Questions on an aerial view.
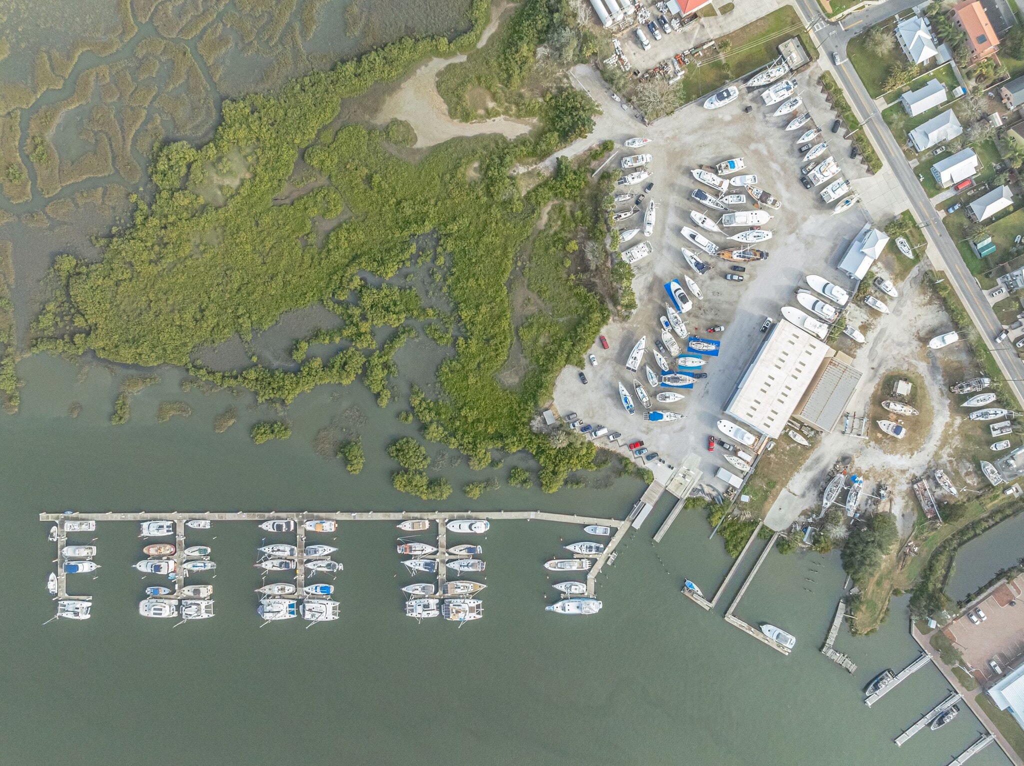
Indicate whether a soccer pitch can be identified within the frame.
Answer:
No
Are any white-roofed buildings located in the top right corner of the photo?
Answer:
Yes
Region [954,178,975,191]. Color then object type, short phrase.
red vehicle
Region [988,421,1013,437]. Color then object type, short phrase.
white ship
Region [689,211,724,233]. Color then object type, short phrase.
white boat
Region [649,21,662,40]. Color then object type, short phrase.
white vehicle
